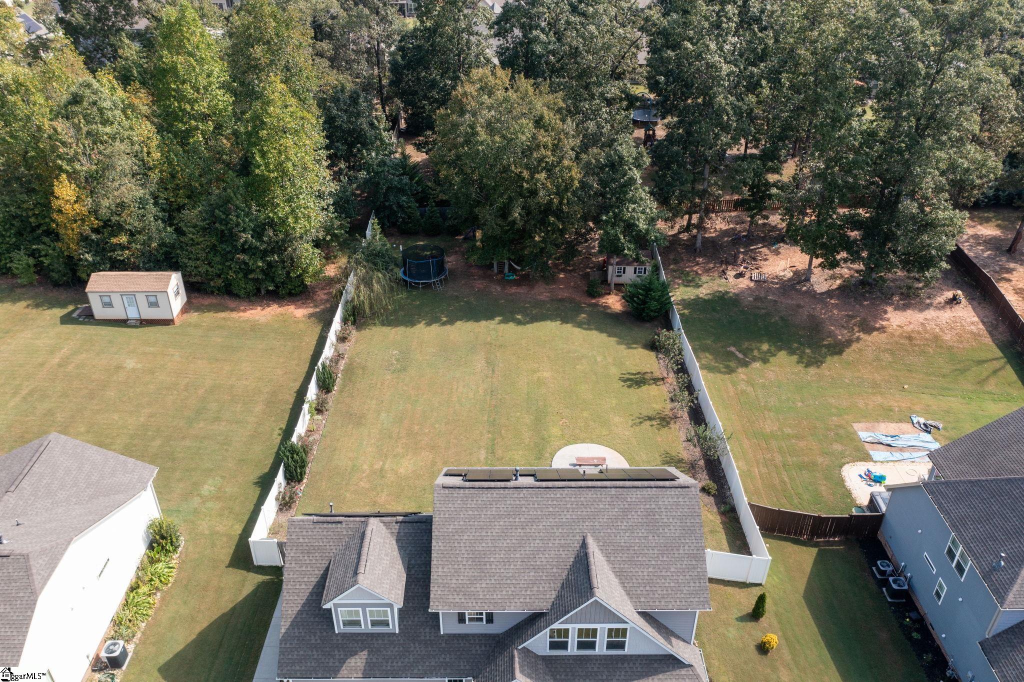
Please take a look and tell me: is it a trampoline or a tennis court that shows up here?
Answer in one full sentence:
Visible in the photo is a trampoline.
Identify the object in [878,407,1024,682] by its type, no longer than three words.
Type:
house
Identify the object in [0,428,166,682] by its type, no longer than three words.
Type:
house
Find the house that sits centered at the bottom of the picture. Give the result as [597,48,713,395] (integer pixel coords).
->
[276,458,711,682]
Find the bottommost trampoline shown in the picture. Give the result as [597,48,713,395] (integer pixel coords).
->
[401,245,449,293]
